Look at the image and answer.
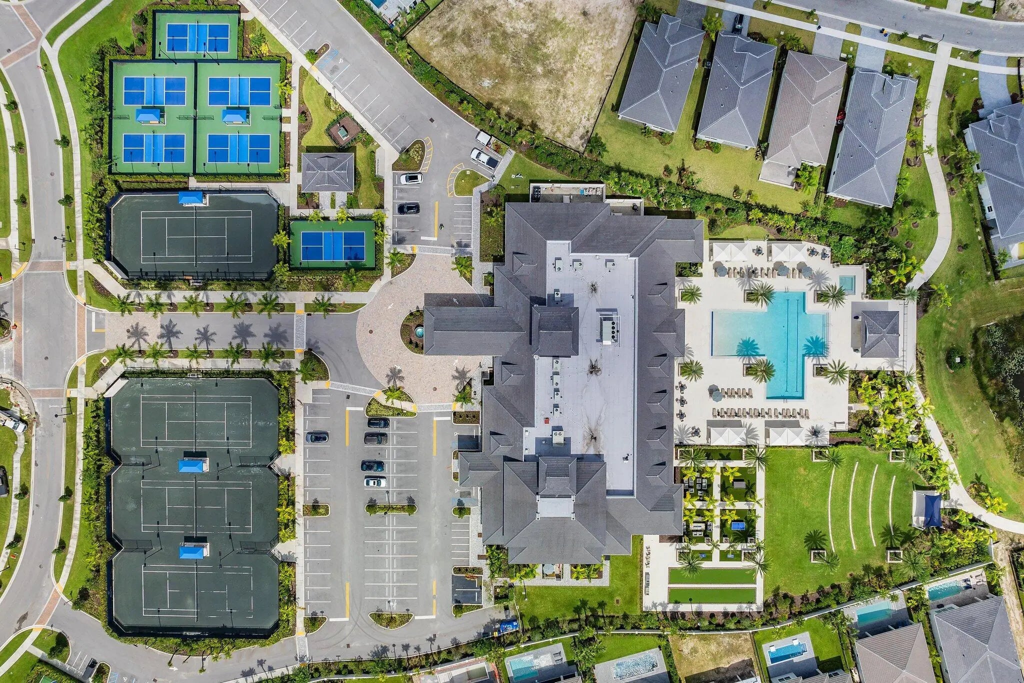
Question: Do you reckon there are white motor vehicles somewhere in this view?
Yes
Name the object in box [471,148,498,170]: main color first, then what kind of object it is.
white truck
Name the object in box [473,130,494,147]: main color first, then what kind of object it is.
white vehicle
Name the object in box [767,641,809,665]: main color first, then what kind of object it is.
blue swimming pool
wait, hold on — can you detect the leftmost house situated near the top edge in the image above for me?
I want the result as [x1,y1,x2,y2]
[618,13,705,133]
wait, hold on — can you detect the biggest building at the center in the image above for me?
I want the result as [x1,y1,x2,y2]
[423,202,704,564]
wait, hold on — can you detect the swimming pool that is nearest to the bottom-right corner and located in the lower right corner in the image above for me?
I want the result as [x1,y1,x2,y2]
[926,578,962,601]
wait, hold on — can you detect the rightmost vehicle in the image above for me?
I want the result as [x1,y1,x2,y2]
[733,13,746,36]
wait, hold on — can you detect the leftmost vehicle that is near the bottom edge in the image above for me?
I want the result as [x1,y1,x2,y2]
[81,655,101,681]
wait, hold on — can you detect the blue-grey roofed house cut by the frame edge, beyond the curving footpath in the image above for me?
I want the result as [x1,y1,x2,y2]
[962,101,1024,238]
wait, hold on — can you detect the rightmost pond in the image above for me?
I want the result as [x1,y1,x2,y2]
[981,322,1024,463]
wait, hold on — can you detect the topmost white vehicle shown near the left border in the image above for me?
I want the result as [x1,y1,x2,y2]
[1,414,30,432]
